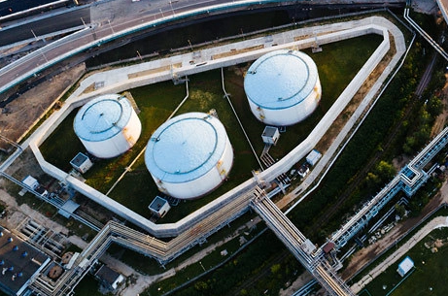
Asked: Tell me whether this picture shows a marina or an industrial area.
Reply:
industrial area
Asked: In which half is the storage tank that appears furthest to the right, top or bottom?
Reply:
top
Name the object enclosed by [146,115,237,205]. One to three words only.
storage tank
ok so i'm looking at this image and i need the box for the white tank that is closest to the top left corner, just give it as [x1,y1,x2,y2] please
[74,95,145,160]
